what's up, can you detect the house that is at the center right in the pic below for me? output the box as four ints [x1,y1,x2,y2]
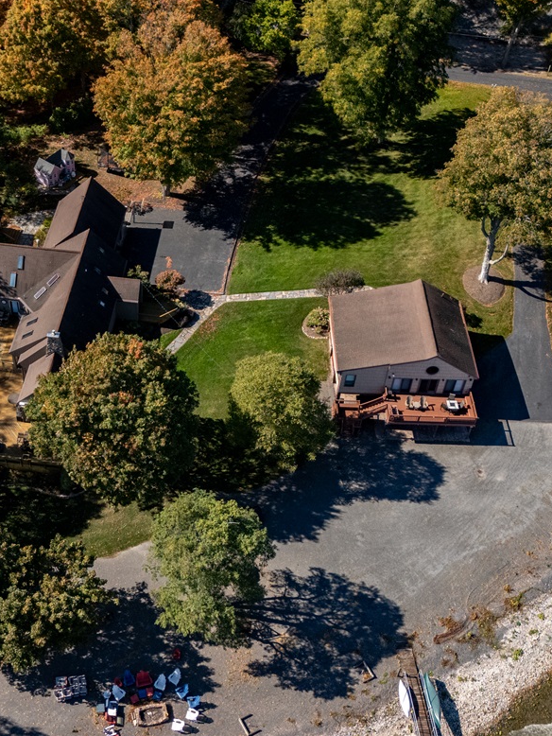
[325,279,480,411]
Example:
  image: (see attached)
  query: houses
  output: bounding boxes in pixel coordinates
[325,279,480,411]
[0,175,143,426]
